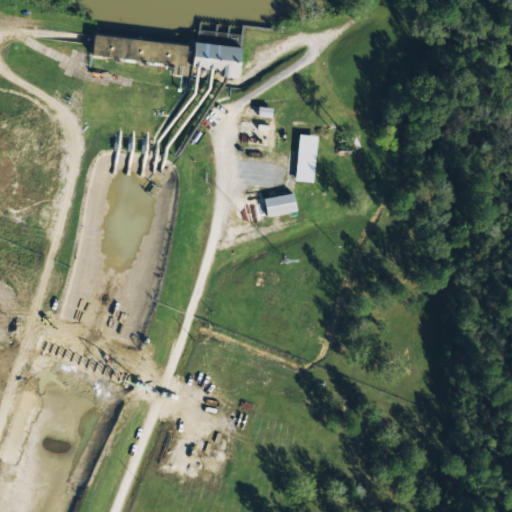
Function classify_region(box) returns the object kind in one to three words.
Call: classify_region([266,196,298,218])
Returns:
shed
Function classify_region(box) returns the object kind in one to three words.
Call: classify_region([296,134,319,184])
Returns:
building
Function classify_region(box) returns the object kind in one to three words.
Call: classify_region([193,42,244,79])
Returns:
building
